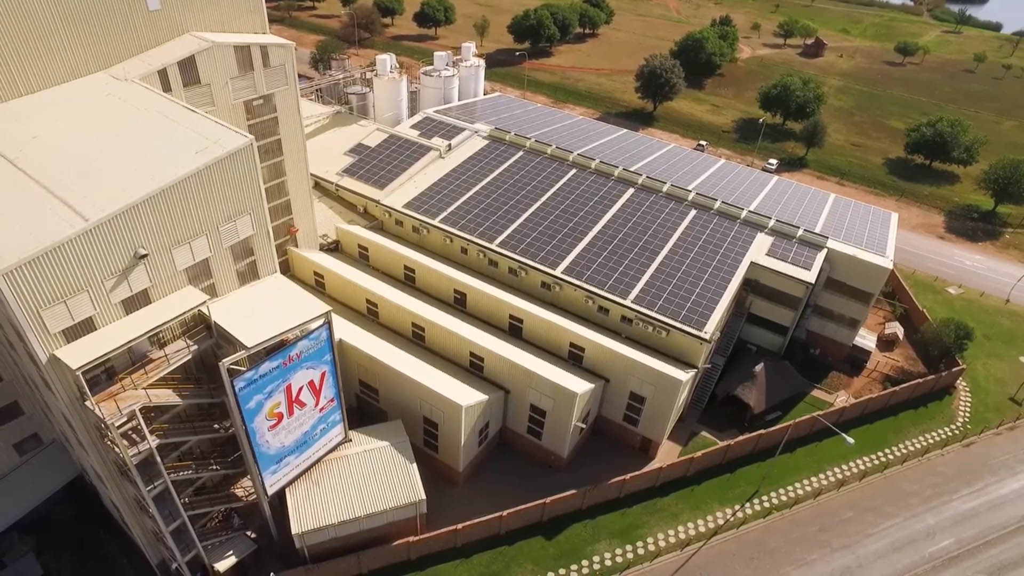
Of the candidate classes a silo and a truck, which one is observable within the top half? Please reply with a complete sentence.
It is a silo that can be seen within the top half.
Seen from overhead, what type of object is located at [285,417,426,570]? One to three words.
shed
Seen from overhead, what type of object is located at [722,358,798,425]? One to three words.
shed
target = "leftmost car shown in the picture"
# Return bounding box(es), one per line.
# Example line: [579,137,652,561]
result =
[696,138,712,151]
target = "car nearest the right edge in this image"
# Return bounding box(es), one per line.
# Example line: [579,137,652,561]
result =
[765,156,782,172]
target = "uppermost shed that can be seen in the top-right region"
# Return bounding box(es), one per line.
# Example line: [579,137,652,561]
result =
[804,31,831,56]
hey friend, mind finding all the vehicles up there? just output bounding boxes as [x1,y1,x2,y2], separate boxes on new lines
[765,156,782,172]
[696,138,712,151]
